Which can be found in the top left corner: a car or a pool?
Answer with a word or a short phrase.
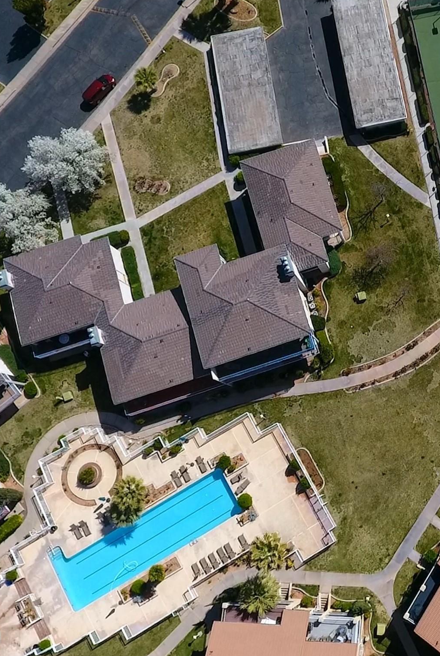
car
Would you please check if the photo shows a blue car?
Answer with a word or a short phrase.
No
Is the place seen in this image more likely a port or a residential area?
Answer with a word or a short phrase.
residential area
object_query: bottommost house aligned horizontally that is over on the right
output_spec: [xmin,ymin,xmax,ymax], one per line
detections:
[205,584,367,656]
